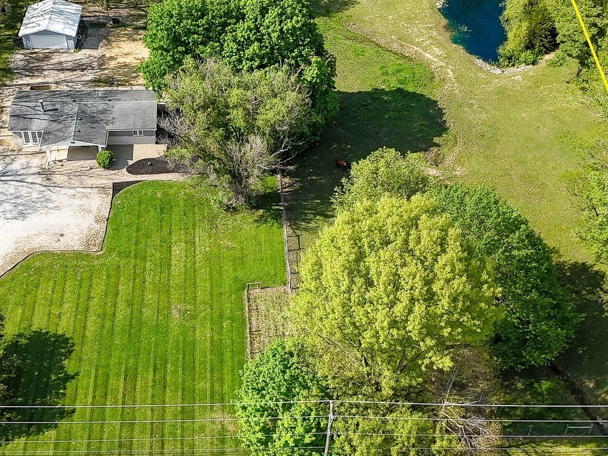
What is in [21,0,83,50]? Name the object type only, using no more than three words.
building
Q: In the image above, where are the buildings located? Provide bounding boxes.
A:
[21,0,83,50]
[7,90,161,171]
